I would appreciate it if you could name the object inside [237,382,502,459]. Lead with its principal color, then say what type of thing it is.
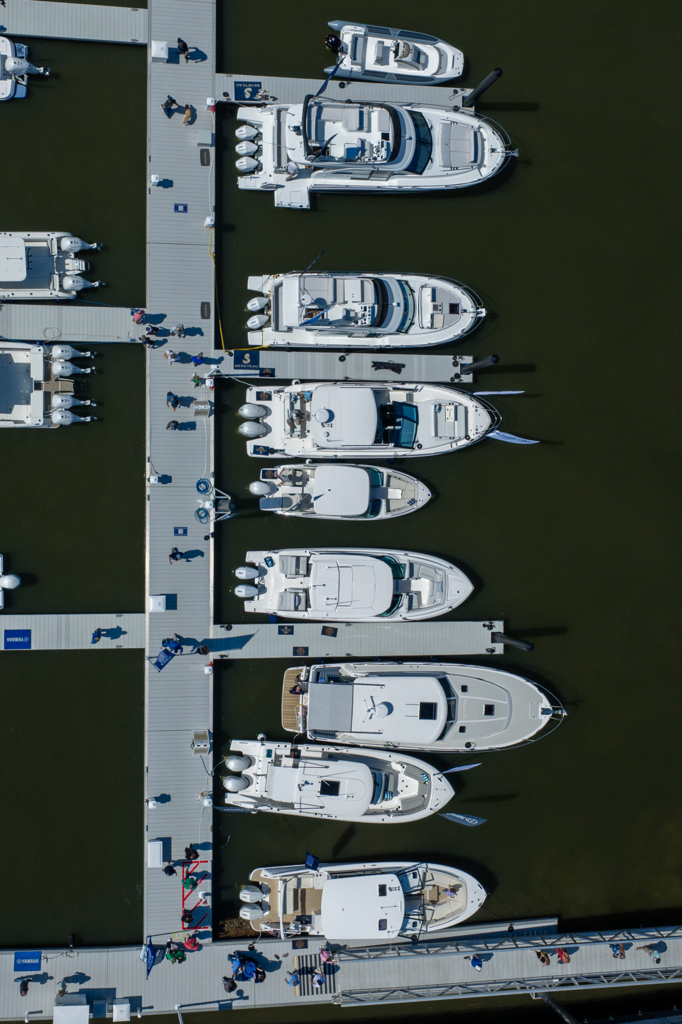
white boat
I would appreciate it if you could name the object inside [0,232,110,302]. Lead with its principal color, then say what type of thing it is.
white boat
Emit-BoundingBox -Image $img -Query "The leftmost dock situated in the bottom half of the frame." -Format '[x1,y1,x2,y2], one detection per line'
[0,613,145,650]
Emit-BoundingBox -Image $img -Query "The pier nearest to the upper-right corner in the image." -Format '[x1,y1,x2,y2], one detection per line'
[216,74,474,117]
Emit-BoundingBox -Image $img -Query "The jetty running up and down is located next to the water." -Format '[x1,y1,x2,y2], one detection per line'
[144,0,216,945]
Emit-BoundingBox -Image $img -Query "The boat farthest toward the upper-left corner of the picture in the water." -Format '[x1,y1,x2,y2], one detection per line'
[0,36,56,107]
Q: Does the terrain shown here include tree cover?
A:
No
